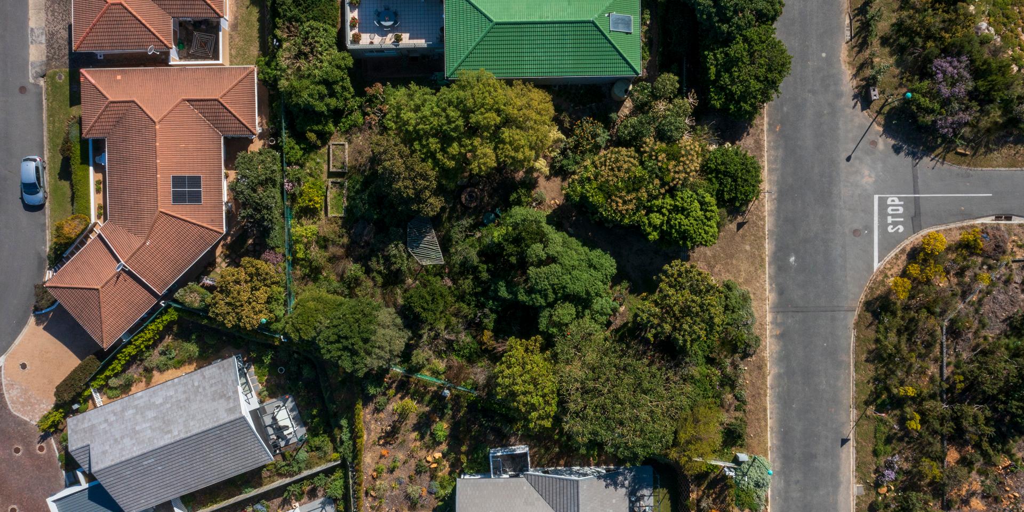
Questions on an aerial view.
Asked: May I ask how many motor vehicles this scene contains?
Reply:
1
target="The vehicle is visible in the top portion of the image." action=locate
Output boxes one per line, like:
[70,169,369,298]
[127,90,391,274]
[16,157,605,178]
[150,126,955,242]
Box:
[19,156,50,206]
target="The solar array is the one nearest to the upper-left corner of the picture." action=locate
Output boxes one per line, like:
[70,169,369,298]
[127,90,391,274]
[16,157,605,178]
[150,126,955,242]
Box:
[169,174,204,205]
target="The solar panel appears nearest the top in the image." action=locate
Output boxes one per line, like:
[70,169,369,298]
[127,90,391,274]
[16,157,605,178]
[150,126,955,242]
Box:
[614,10,636,33]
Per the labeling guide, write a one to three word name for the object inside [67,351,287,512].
house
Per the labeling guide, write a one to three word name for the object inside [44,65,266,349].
house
